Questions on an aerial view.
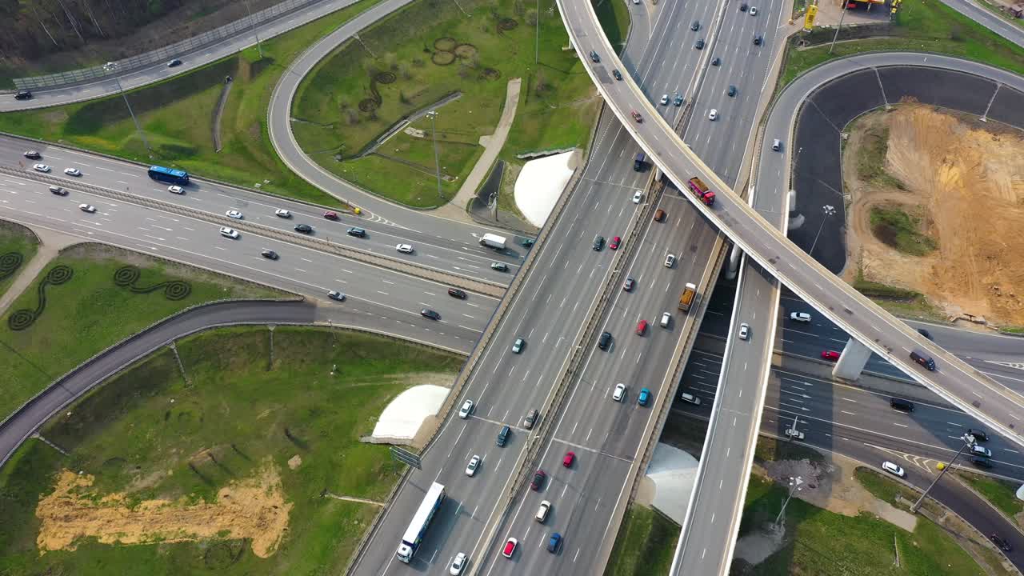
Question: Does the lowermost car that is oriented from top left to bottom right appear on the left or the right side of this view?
right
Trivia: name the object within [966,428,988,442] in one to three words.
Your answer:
car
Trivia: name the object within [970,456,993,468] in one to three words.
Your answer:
vehicle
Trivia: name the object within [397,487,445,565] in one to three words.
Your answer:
truck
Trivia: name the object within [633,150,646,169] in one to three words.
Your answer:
vehicle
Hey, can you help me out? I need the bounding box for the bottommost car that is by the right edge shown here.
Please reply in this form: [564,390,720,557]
[990,533,1013,554]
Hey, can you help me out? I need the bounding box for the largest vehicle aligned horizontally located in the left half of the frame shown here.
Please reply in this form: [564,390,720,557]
[149,166,187,184]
